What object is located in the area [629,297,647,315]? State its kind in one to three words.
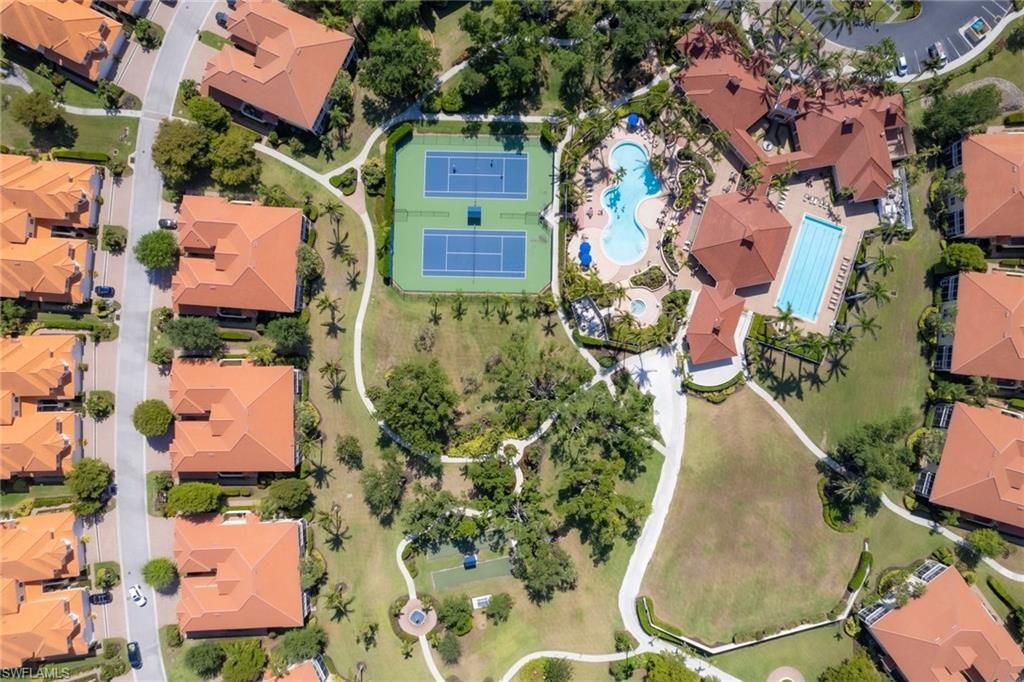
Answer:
swimming pool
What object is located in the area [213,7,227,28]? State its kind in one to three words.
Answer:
car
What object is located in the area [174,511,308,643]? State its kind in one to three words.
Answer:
house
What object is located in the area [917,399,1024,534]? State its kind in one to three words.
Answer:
house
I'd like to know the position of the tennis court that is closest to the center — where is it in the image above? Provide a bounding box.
[422,229,527,279]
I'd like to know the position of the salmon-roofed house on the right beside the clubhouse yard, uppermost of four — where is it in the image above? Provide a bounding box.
[946,125,1024,248]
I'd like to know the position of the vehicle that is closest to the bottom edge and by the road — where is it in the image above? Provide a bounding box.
[127,644,139,667]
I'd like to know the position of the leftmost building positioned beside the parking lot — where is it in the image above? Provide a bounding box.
[675,24,917,364]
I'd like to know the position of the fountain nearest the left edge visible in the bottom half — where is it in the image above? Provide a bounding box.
[408,609,427,627]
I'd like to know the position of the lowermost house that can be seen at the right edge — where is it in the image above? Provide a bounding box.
[860,562,1024,682]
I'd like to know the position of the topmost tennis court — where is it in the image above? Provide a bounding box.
[424,151,528,200]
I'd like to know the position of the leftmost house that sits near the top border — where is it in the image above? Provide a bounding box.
[0,0,142,84]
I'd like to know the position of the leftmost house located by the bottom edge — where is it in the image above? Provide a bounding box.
[0,511,100,668]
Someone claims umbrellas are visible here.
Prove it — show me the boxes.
[627,113,639,125]
[580,252,592,264]
[580,241,591,253]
